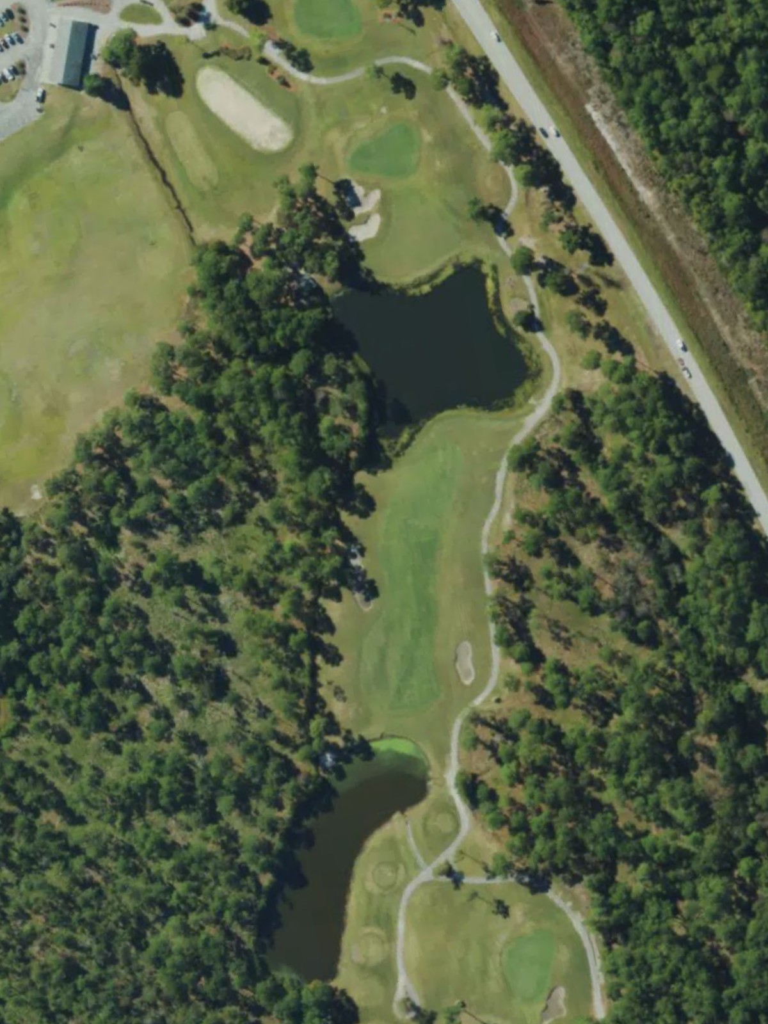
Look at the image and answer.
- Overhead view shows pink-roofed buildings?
No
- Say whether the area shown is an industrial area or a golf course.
golf course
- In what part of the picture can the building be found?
top left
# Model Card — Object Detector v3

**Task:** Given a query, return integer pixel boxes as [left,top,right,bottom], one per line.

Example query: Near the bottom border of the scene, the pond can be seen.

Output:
[266,762,428,980]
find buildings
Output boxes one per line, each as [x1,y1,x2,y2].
[59,21,89,87]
